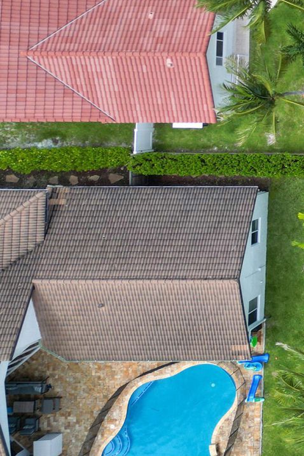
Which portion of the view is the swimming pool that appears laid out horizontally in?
bottom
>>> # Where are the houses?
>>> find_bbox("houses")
[0,0,236,129]
[0,182,268,456]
